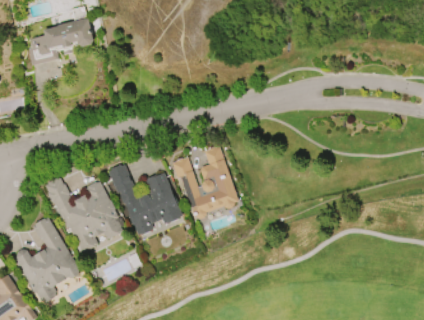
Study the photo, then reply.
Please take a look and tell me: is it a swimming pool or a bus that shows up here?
swimming pool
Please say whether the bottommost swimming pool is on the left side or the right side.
left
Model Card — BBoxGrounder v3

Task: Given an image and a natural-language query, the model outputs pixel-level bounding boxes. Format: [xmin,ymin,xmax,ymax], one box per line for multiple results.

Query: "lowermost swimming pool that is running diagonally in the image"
[68,284,91,303]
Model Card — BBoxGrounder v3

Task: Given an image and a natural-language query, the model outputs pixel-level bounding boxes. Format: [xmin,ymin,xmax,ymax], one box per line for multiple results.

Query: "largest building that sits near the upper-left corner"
[31,19,94,64]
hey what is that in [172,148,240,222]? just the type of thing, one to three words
house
